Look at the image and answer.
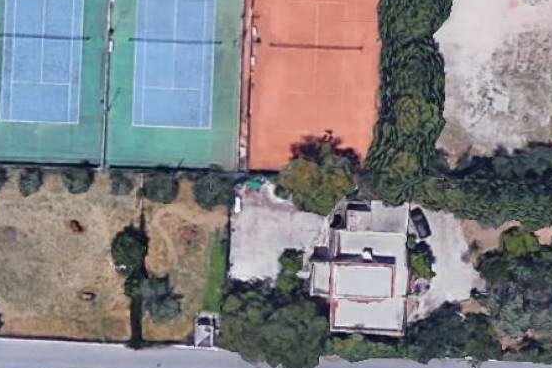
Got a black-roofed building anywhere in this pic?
No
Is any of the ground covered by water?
No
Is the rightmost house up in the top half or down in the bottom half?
bottom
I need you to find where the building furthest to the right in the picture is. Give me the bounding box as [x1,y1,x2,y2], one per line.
[305,201,408,335]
